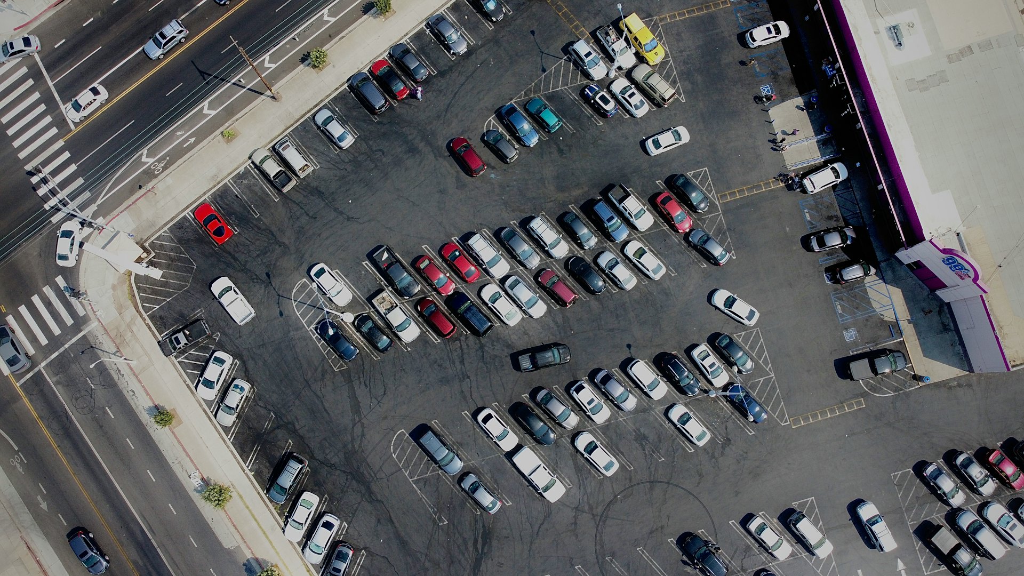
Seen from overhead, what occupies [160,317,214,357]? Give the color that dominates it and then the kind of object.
black truck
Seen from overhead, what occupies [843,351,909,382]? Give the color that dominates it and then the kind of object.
gray truck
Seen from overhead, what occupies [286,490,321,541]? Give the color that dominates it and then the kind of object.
white car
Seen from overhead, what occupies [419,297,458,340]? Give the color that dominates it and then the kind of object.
red car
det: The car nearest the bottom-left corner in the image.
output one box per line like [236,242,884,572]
[69,527,108,574]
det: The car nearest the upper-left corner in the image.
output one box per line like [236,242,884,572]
[0,35,42,65]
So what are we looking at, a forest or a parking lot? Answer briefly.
parking lot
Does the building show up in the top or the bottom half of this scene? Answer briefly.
top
